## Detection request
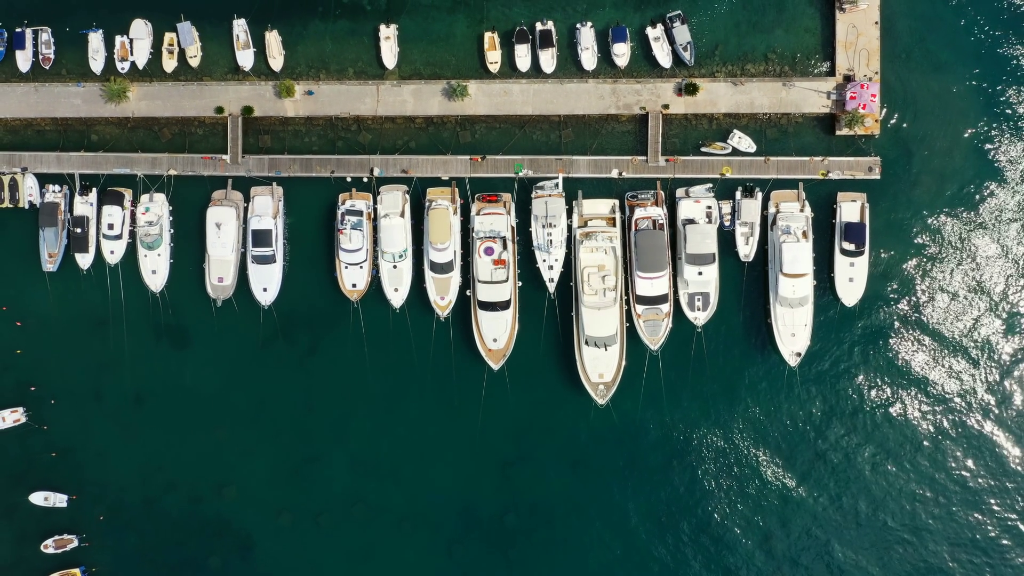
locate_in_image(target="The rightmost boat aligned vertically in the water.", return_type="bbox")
[831,192,869,307]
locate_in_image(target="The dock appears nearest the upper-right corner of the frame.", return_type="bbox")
[831,0,879,135]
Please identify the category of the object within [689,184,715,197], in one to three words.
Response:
boat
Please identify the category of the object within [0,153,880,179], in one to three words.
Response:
pier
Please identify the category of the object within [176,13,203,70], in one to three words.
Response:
boat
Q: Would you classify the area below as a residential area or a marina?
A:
marina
